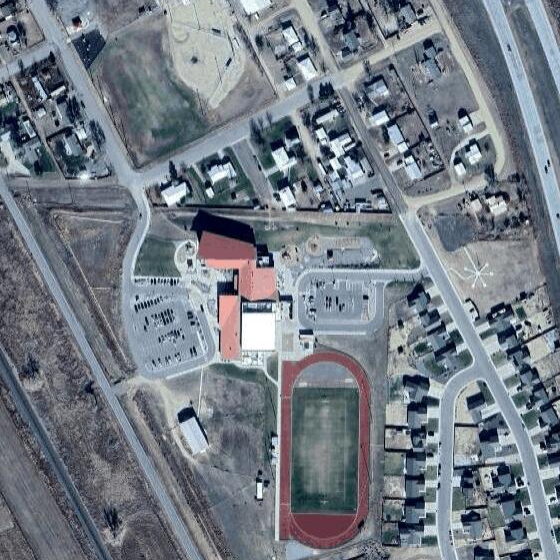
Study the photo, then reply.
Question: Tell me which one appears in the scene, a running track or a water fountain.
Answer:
running track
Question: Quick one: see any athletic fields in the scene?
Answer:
Yes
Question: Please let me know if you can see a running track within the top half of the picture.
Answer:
No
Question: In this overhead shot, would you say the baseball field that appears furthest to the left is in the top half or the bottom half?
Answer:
top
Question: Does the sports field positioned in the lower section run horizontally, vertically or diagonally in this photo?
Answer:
vertically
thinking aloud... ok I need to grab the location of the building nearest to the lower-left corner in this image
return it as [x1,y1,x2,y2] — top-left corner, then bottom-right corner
[179,417,209,453]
